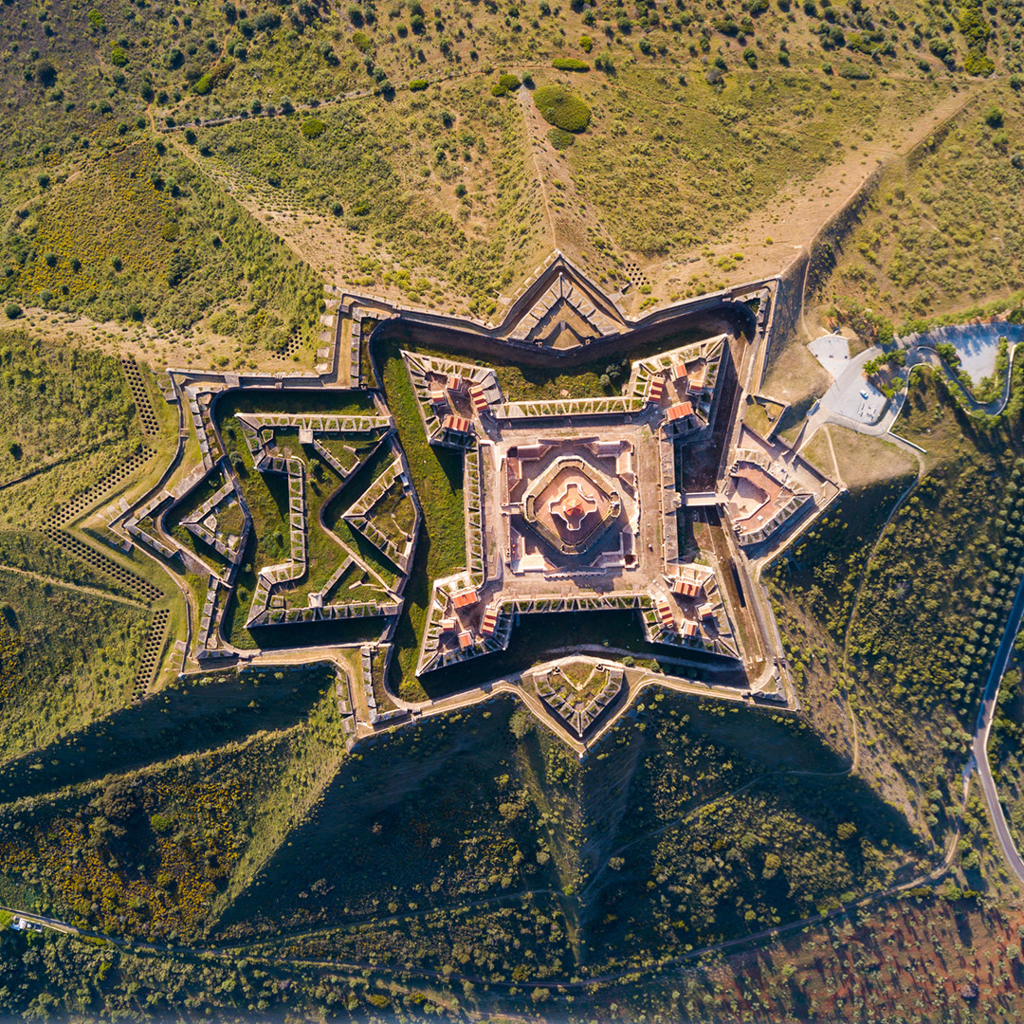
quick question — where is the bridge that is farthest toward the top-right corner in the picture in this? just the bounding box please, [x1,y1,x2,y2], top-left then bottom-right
[680,488,727,511]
